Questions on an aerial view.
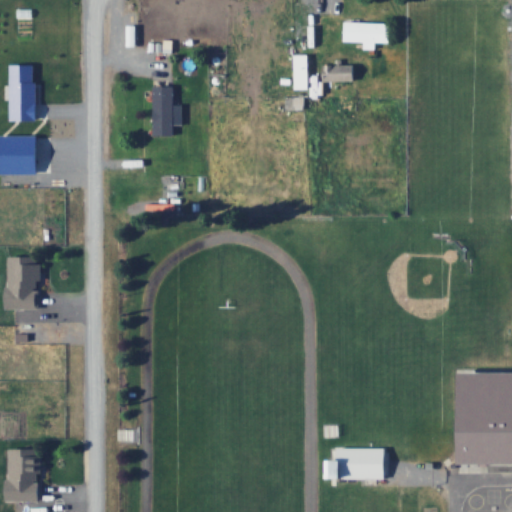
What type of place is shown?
sports ground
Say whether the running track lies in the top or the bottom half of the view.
bottom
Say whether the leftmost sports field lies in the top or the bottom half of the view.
bottom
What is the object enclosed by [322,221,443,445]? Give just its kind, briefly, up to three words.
sports field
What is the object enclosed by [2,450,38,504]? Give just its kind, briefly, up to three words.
house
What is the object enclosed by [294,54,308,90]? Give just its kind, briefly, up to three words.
building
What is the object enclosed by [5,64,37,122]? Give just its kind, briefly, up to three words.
house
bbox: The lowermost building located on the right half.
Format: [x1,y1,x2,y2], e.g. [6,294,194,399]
[323,444,388,483]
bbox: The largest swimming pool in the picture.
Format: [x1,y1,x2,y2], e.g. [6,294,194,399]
[182,57,196,74]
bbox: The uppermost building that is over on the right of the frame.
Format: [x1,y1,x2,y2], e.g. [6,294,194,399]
[342,20,388,55]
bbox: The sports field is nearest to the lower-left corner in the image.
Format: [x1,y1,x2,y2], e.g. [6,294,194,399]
[160,262,300,512]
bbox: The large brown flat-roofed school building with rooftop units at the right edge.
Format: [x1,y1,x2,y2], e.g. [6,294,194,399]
[456,370,512,472]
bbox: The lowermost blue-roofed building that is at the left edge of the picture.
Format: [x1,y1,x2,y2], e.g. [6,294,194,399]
[0,136,36,175]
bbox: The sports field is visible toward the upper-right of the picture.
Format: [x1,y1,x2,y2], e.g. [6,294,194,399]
[411,3,505,216]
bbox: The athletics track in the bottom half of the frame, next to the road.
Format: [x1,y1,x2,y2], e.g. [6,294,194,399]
[140,230,319,512]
